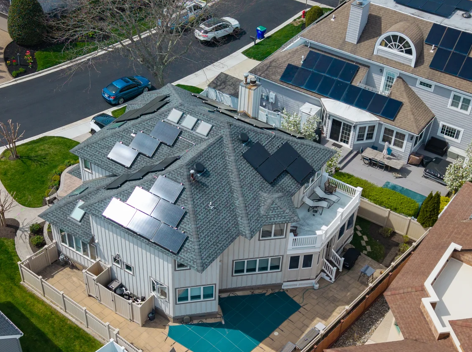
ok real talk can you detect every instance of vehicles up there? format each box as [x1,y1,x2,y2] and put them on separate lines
[196,15,241,42]
[101,74,153,104]
[80,115,111,137]
[156,2,206,31]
